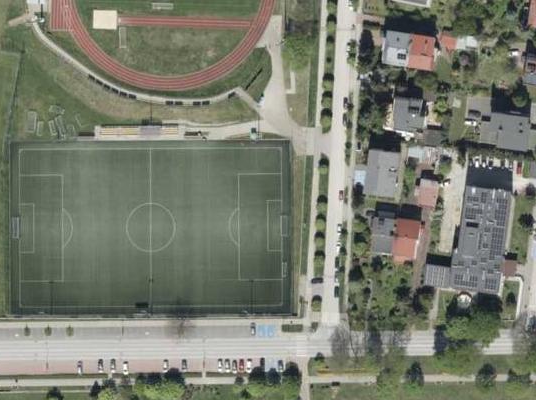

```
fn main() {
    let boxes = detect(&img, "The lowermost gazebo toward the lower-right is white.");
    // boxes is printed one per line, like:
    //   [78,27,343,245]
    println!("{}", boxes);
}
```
[456,291,473,304]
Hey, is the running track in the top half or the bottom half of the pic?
top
